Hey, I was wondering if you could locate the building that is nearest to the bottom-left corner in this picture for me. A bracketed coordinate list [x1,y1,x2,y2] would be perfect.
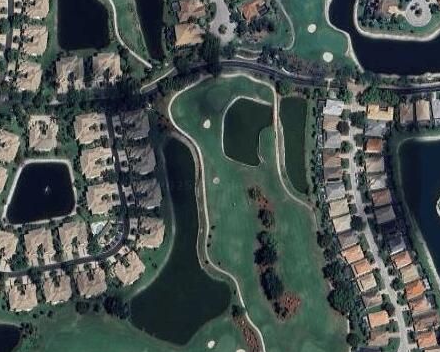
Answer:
[9,284,38,310]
